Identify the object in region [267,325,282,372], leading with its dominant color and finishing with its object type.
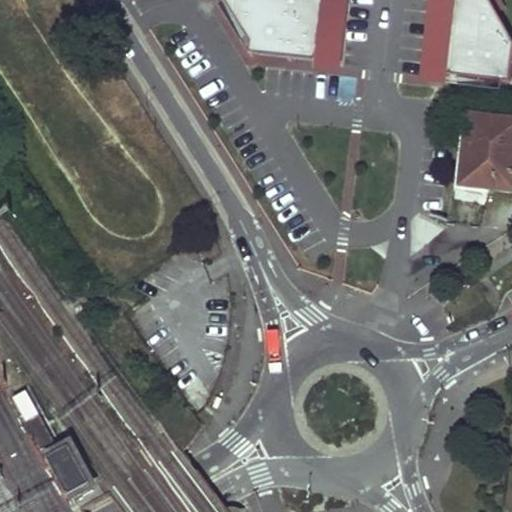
red vehicle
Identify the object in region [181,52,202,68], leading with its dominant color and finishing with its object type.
white car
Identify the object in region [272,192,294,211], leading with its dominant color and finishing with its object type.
white car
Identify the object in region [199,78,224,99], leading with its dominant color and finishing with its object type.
white vehicle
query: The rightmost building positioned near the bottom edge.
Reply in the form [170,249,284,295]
[45,435,92,494]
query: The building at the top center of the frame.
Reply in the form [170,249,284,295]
[219,0,349,70]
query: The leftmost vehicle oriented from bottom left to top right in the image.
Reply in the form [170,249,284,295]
[146,328,167,346]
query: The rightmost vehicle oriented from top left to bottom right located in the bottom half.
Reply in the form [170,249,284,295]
[410,314,430,338]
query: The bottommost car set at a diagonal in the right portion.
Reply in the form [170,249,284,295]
[360,348,379,367]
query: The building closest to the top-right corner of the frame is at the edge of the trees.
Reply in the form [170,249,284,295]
[420,0,512,90]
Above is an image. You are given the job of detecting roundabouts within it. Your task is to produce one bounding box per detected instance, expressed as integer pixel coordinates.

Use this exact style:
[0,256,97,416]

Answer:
[264,334,418,474]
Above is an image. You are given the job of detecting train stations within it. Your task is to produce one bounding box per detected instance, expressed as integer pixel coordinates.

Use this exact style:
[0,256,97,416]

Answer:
[0,384,72,512]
